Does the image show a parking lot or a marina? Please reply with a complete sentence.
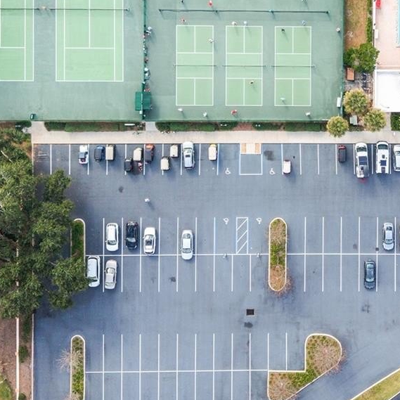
It's a parking lot.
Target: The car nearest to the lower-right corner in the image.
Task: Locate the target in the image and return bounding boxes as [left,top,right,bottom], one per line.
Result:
[364,259,376,288]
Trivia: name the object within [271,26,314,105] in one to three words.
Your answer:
sports court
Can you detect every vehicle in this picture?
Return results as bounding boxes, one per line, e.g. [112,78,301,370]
[144,145,155,163]
[143,226,157,255]
[124,157,134,174]
[180,230,193,259]
[392,144,400,170]
[104,259,119,289]
[209,145,218,162]
[79,147,89,167]
[170,144,179,160]
[337,146,345,163]
[133,146,143,164]
[105,146,115,162]
[160,157,170,174]
[364,259,376,288]
[180,140,195,170]
[284,158,290,174]
[382,222,395,251]
[354,141,369,181]
[95,145,105,163]
[104,222,120,252]
[87,256,101,286]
